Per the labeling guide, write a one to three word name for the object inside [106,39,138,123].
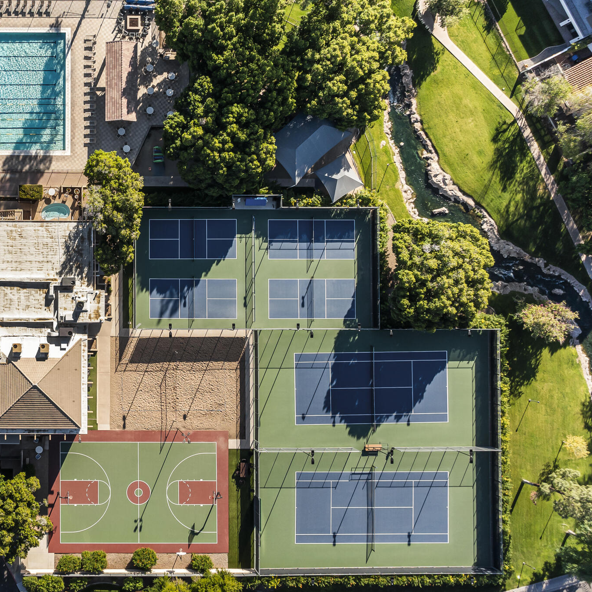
building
